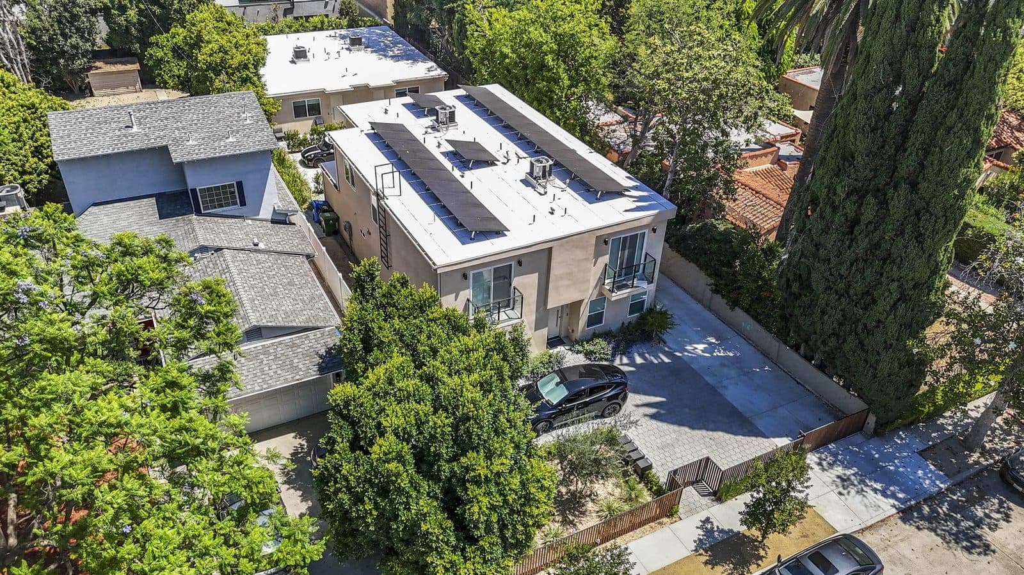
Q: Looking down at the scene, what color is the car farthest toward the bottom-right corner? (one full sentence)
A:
From above, the car farthest toward the bottom-right corner appears black.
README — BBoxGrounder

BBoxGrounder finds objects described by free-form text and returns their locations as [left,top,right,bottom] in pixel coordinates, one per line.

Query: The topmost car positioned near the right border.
[987,443,1024,504]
